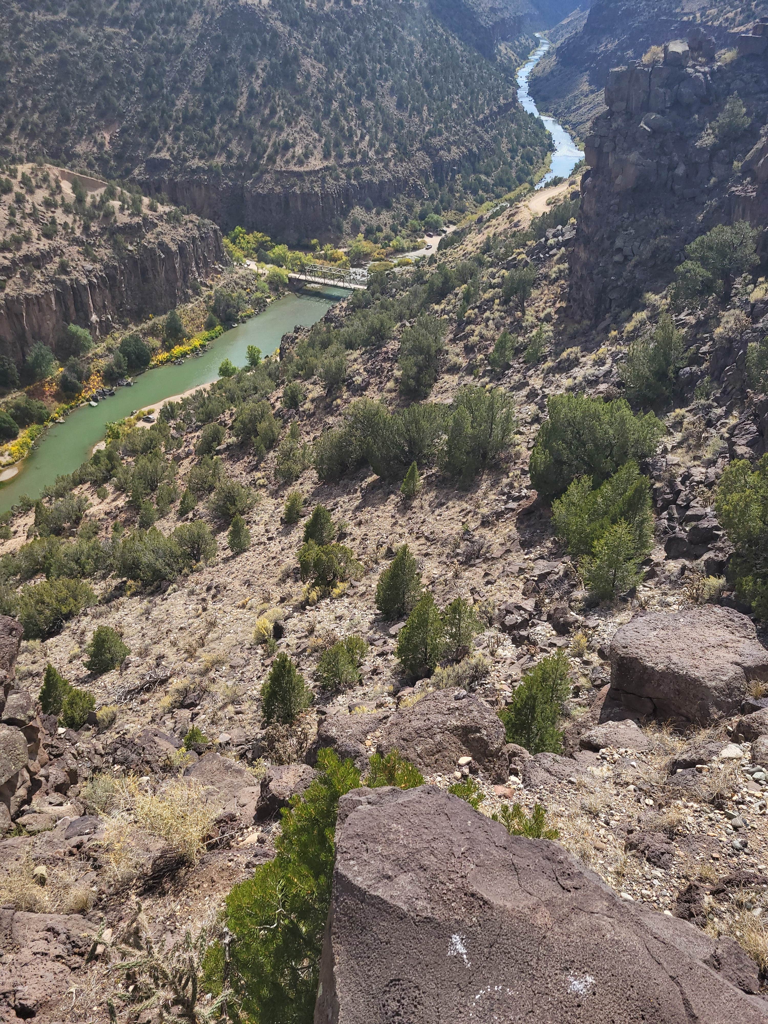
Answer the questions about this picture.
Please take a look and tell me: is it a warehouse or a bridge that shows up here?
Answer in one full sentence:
Of the two, only a bridge appears.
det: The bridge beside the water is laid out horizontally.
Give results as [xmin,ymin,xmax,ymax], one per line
[276,263,369,299]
